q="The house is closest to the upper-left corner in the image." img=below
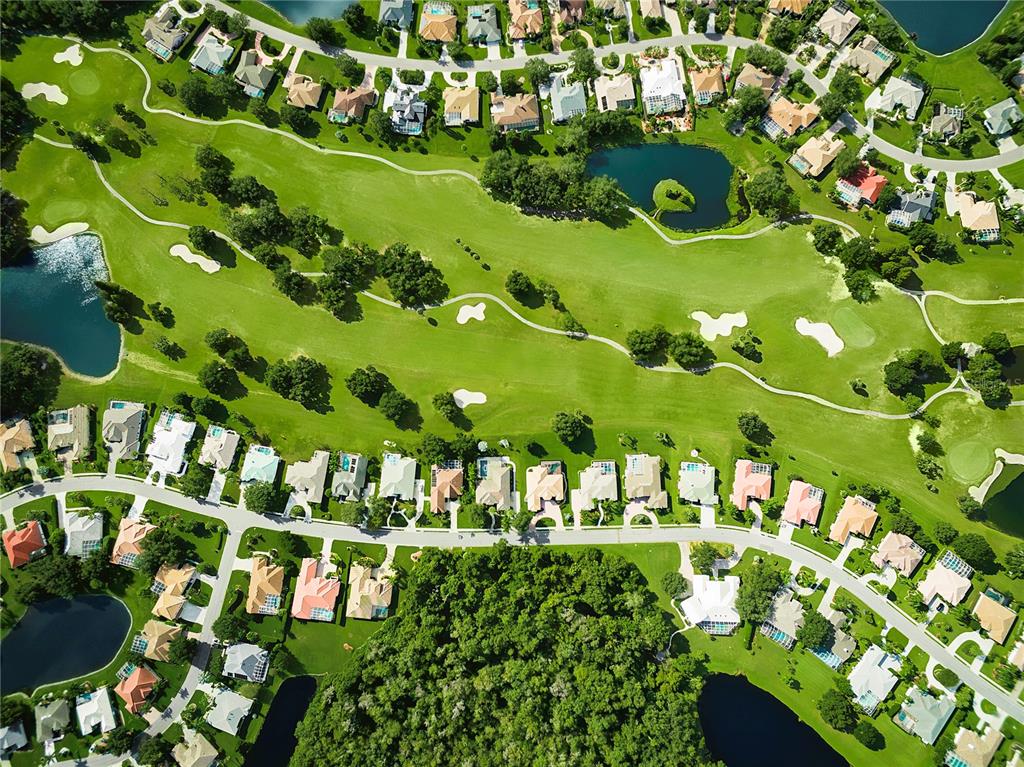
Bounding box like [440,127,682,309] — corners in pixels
[141,7,190,63]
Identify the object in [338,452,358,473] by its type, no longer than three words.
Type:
swimming pool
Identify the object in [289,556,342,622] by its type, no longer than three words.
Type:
house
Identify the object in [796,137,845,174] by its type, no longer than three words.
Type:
house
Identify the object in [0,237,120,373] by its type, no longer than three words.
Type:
pond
